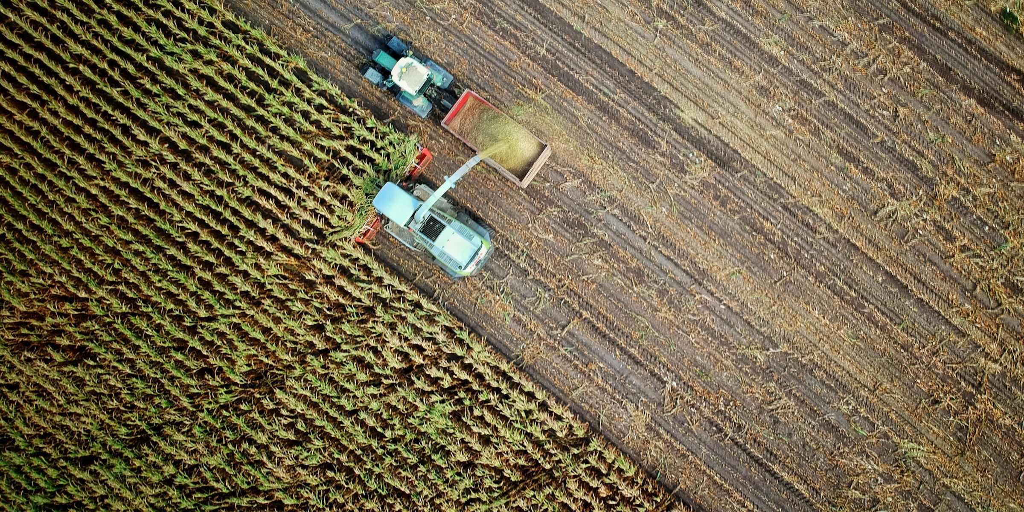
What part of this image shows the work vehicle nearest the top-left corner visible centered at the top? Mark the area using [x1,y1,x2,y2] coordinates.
[366,39,456,123]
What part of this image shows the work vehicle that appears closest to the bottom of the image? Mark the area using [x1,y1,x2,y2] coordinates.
[352,146,499,284]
